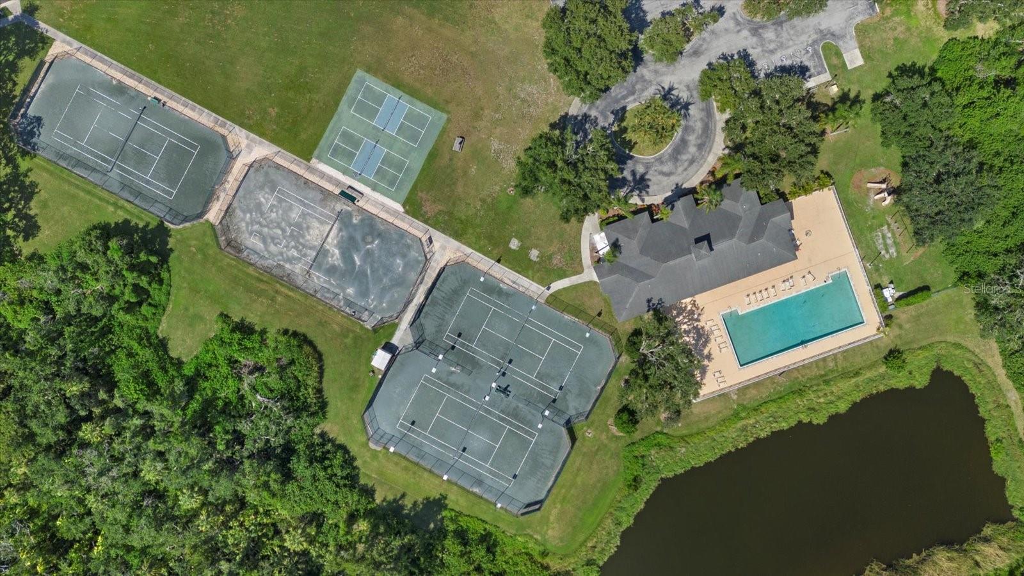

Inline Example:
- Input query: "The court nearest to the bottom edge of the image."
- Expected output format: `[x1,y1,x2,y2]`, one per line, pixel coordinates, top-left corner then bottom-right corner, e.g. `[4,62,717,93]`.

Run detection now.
[366,350,570,511]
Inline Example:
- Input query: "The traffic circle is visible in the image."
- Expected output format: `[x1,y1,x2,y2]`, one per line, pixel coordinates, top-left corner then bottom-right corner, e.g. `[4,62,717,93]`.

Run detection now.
[614,96,680,156]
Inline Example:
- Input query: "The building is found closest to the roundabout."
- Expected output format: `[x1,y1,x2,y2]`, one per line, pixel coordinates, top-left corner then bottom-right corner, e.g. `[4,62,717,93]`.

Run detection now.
[594,179,800,321]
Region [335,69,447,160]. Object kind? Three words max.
sports court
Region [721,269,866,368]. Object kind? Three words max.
swimming pool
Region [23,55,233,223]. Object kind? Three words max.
tennis court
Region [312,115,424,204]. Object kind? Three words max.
sports court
